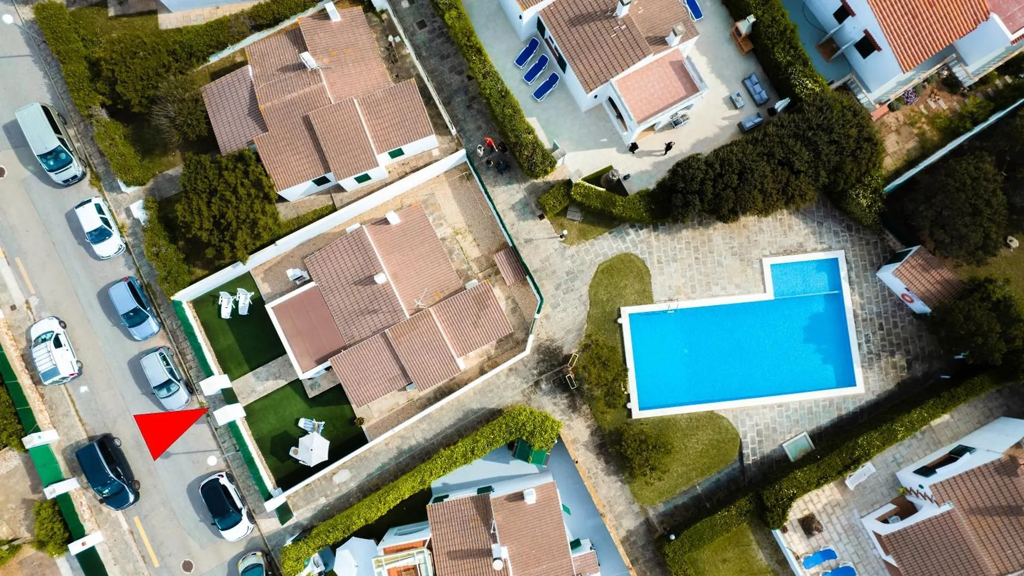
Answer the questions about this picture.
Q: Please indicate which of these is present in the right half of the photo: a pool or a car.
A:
pool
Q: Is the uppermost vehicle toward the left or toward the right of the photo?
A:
left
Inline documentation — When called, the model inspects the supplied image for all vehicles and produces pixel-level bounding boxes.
[138,344,190,411]
[18,107,83,184]
[105,276,159,341]
[76,437,135,510]
[26,317,81,386]
[200,474,250,540]
[72,194,125,259]
[240,550,276,576]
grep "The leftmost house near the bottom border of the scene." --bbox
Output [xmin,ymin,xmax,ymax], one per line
[371,464,600,576]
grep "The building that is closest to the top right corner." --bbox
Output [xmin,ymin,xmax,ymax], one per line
[807,0,1024,95]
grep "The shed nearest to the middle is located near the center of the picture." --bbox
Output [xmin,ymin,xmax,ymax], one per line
[493,246,527,286]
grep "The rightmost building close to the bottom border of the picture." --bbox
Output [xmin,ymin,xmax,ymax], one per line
[860,415,1024,576]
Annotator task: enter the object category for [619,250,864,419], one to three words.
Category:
swimming pool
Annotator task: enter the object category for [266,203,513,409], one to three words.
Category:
house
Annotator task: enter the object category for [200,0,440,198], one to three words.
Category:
house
